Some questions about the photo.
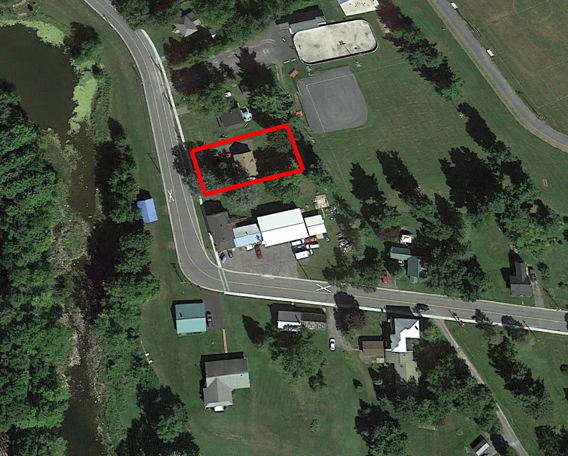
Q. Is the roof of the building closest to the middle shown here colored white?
Yes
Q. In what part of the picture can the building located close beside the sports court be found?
top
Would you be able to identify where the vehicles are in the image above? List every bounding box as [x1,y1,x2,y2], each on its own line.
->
[296,251,313,259]
[293,244,305,251]
[330,338,335,350]
[207,314,212,325]
[383,271,388,283]
[305,243,320,249]
[228,249,233,260]
[323,233,331,243]
[244,243,255,250]
[303,237,318,243]
[529,268,536,282]
[218,252,227,264]
[254,245,263,259]
[292,239,304,246]
[416,305,429,310]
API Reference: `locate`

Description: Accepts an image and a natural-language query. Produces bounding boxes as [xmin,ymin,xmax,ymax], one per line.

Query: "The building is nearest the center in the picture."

[258,208,308,247]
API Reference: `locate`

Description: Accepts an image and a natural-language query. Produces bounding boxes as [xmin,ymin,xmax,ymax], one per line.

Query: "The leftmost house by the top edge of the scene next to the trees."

[175,11,197,37]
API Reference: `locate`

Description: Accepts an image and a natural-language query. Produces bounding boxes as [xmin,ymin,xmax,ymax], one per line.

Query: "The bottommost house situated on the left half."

[204,356,250,411]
